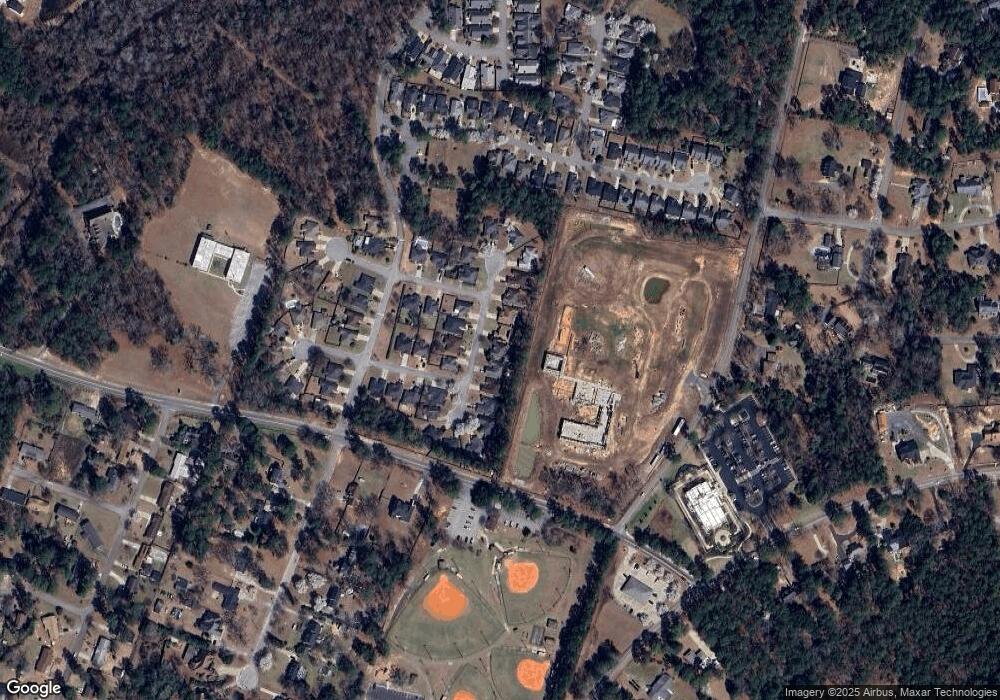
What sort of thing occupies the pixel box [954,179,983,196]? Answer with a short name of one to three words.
house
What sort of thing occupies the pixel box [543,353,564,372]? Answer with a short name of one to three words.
building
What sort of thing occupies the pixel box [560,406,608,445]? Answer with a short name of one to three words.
building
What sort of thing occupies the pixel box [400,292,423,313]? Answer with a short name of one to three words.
house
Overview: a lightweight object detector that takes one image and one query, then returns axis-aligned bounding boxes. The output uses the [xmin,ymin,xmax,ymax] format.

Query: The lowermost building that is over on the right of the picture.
[646,672,674,700]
